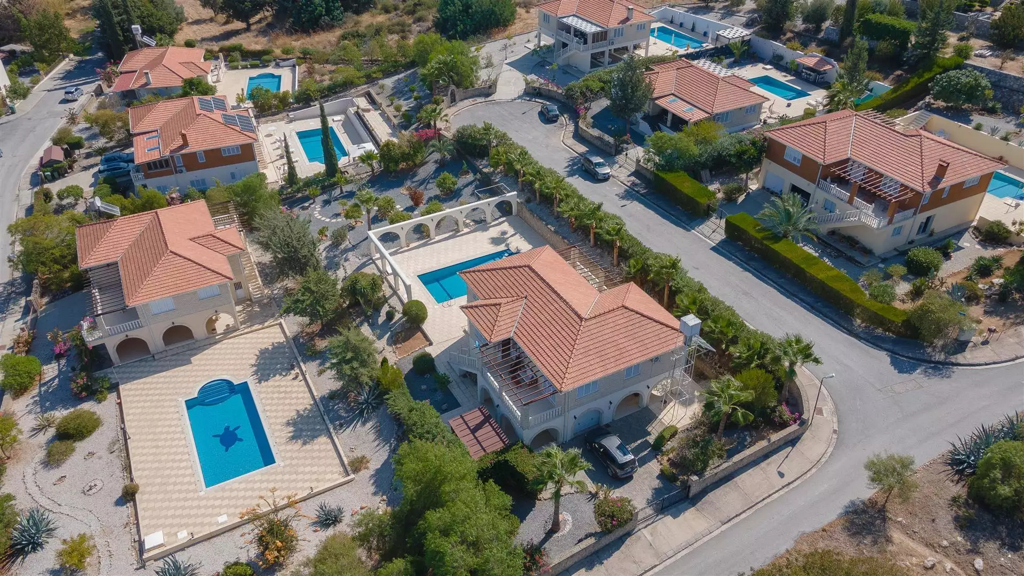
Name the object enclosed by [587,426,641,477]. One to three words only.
car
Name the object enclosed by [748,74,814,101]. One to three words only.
swimming pool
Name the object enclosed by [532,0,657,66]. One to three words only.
house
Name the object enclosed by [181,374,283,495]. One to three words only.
swimming pool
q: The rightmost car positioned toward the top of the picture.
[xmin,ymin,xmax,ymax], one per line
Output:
[583,152,609,176]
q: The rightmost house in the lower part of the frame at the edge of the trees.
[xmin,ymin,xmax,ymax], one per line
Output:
[451,244,698,456]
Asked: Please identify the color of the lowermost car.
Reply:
black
